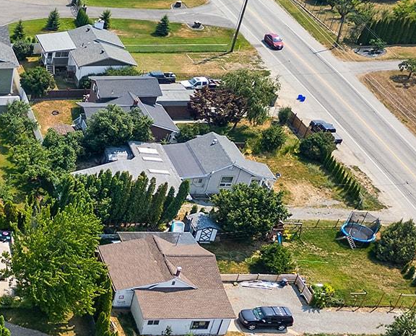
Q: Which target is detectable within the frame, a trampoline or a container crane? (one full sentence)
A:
I can see a trampoline in this picture.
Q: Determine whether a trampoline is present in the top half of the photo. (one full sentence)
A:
No, there is no trampoline in the top half of the photo.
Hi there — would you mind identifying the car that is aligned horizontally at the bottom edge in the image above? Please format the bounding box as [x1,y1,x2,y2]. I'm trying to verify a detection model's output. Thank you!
[238,306,299,333]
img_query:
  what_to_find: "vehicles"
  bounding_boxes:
[143,68,184,83]
[179,74,219,87]
[238,306,299,333]
[265,32,284,46]
[310,117,340,141]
